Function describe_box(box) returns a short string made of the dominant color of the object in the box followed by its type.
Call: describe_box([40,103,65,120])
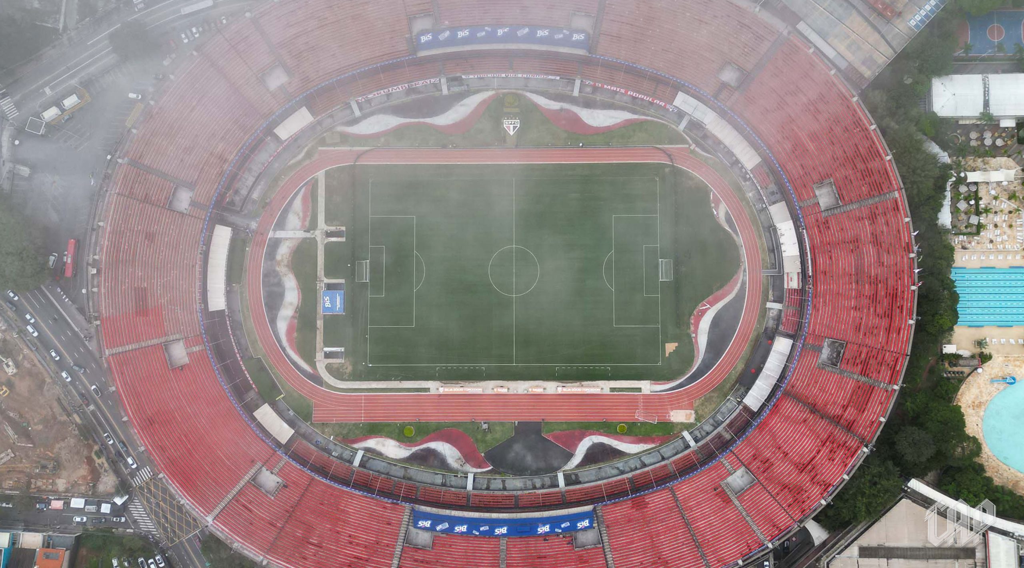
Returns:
white vehicle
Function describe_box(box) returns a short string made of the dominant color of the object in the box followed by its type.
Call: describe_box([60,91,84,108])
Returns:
white vehicle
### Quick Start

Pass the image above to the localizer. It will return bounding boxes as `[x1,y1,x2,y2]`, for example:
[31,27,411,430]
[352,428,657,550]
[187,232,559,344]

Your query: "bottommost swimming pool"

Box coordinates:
[981,378,1024,474]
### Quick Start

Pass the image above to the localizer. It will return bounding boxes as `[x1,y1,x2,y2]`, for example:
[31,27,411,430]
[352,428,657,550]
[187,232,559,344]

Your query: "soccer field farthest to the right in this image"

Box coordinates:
[347,162,681,382]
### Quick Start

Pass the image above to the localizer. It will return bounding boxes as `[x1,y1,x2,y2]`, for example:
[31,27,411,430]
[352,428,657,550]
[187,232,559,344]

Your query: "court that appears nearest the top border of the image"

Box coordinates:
[951,8,1024,56]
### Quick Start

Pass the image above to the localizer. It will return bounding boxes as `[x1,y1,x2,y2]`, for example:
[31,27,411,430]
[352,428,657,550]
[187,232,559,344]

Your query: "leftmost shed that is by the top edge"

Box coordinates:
[796,19,850,69]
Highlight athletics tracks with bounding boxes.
[248,147,762,423]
